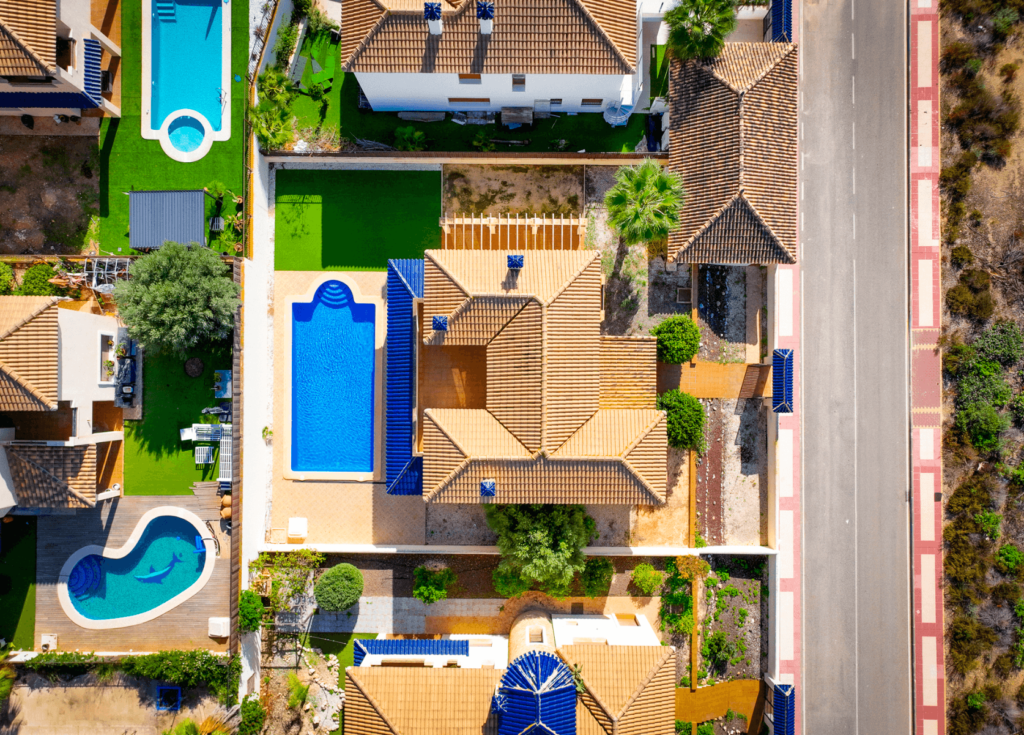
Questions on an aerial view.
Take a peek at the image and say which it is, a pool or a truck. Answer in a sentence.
It is a pool that can be seen here.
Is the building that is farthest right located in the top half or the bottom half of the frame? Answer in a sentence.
It is in the top half that the building that is farthest right appears.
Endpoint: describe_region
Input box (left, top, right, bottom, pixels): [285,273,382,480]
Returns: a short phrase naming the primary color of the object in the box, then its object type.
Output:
blue swimming pool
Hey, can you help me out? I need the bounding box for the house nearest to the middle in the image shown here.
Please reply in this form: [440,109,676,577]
[385,247,668,506]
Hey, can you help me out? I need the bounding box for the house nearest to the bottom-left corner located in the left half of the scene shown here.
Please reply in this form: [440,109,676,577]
[0,295,125,520]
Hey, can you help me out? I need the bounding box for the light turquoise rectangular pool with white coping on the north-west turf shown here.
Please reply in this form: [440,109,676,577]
[142,0,230,165]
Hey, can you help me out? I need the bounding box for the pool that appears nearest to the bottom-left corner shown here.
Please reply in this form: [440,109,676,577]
[58,507,214,629]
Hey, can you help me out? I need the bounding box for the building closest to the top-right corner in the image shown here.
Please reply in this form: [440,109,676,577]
[667,41,800,266]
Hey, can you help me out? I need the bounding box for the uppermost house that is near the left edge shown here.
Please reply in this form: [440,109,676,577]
[0,0,121,117]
